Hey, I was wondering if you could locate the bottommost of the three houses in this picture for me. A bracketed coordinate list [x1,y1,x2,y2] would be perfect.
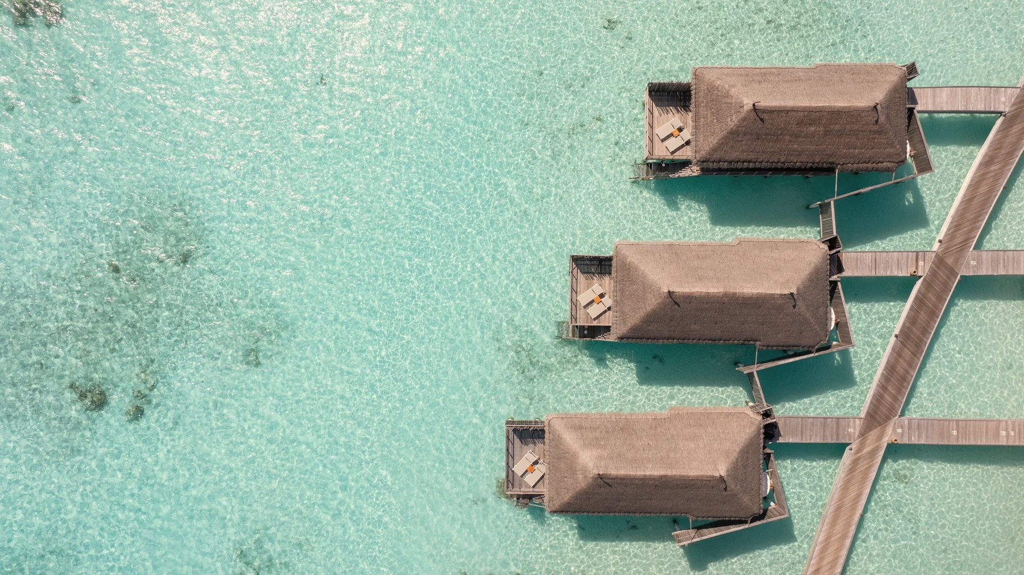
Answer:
[498,406,764,521]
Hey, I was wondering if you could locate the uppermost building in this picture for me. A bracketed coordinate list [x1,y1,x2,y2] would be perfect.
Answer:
[632,62,910,179]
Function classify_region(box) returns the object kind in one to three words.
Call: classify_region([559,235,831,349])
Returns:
house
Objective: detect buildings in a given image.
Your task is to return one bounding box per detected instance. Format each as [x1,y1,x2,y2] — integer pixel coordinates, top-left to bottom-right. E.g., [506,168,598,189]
[559,235,831,349]
[498,406,764,521]
[632,62,910,179]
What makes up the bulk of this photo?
water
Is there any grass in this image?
No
